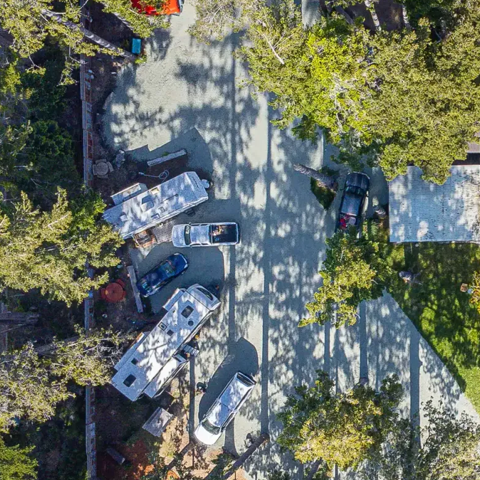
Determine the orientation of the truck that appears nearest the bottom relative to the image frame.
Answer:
on a diagonal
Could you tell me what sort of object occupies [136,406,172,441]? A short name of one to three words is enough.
shed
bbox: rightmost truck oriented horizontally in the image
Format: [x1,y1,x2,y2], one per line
[173,220,241,248]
